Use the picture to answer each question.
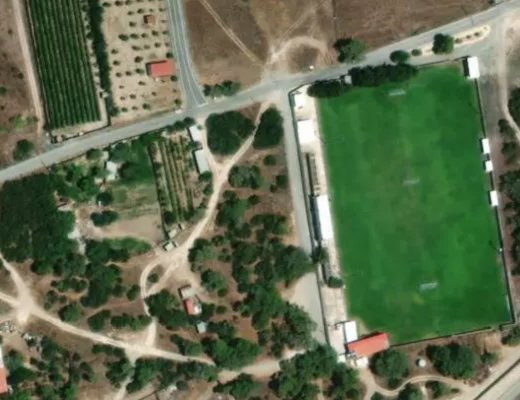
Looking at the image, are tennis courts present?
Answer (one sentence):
No, the picture doesn't show any tennis court.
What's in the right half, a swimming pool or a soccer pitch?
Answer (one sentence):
The one visible in the right half is a soccer pitch.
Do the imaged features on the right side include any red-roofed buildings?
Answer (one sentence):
Yes, a red-roofed building appears on the right side.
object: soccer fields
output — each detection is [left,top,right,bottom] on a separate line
[309,59,513,345]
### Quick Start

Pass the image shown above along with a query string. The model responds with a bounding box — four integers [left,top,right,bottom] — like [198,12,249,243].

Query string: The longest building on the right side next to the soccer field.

[348,333,389,357]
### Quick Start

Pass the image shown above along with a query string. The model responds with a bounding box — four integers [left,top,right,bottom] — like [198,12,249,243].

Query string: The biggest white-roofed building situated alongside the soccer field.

[298,120,314,145]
